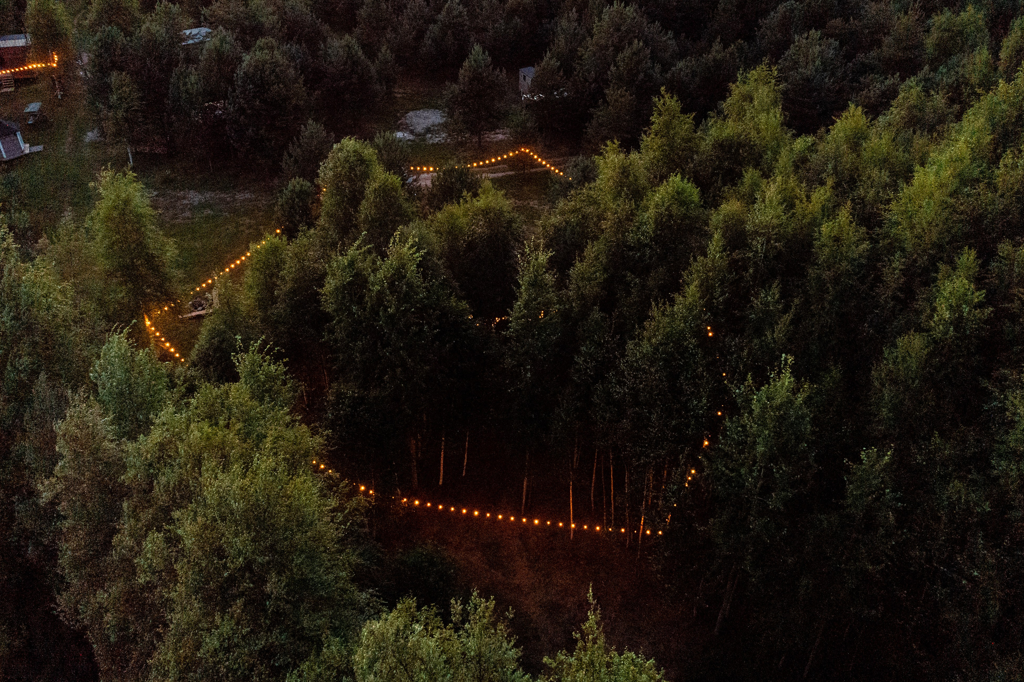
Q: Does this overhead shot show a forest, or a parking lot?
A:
forest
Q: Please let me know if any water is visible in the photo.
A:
No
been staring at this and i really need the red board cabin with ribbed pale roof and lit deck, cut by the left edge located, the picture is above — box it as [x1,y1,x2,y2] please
[0,36,54,86]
